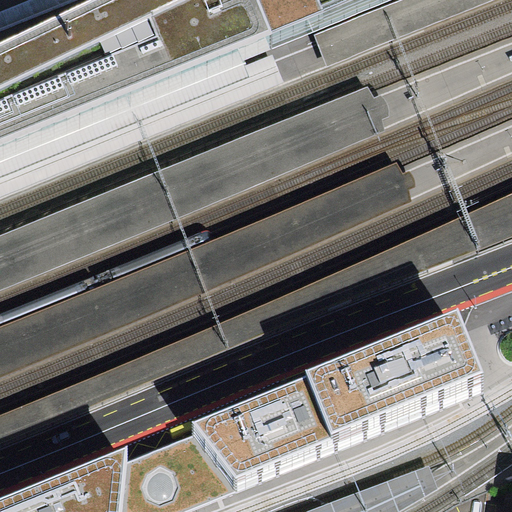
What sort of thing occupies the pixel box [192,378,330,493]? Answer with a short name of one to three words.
building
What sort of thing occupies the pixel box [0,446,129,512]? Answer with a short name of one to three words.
building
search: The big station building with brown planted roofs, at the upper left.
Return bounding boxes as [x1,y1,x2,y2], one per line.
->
[0,0,348,146]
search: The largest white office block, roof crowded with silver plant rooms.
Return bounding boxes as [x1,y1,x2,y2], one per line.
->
[306,309,482,456]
